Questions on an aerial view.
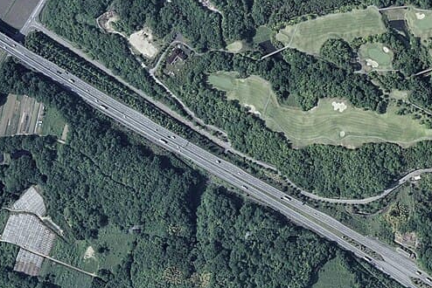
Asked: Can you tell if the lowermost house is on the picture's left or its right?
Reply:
left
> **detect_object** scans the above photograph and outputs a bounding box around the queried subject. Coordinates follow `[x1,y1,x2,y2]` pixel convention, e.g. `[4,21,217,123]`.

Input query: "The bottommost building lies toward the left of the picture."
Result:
[14,249,44,275]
